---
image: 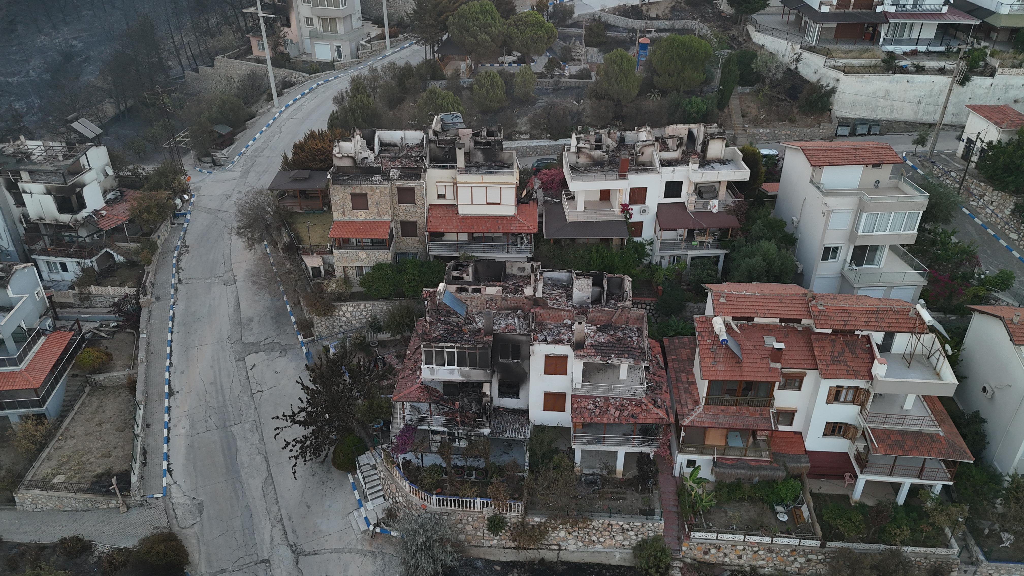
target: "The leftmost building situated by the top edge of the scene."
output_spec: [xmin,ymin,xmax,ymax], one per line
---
[238,0,302,57]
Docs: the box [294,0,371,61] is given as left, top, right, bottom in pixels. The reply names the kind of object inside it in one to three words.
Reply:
house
